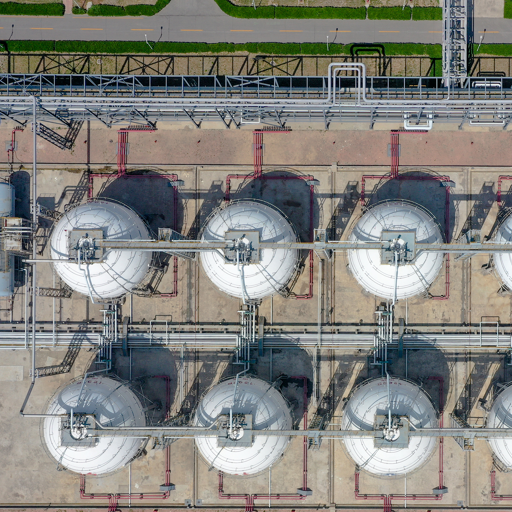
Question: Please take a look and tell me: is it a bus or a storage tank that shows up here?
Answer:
storage tank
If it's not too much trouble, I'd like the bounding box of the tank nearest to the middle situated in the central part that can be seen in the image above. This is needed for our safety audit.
[196,198,305,304]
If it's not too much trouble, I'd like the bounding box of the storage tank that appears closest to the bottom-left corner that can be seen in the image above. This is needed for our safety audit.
[39,370,162,478]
